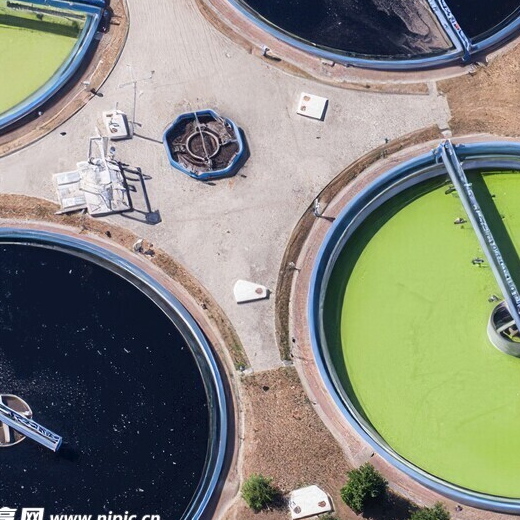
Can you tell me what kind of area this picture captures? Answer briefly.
industrial area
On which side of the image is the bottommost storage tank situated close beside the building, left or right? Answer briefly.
left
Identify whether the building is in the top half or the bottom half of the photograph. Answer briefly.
top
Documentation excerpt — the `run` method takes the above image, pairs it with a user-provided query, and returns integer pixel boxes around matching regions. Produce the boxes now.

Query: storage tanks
[221,0,520,72]
[0,1,103,135]
[0,228,226,520]
[307,141,520,516]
